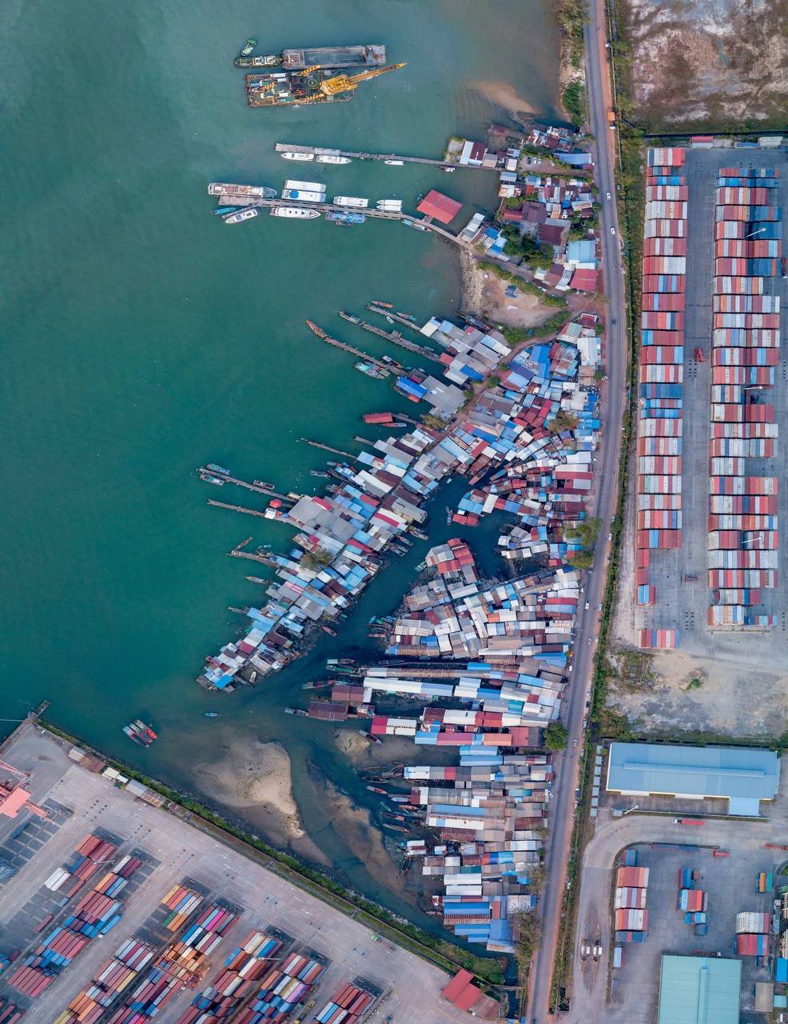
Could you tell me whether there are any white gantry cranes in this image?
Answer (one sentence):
No, the picture doesn't show any white gantry crane.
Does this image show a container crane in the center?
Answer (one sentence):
No, looking in the center, there is no container crane.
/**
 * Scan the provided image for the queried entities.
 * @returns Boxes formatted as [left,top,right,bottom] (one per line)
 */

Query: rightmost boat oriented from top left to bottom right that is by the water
[466,316,490,332]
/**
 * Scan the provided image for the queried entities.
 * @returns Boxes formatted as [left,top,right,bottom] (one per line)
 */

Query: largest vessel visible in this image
[246,61,408,106]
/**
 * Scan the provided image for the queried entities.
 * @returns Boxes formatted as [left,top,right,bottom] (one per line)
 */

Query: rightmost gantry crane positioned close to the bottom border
[154,941,206,987]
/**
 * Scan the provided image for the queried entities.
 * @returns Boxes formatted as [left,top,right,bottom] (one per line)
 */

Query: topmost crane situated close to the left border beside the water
[0,739,54,825]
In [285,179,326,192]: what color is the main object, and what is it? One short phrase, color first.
white boat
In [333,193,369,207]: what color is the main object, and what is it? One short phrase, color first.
white boat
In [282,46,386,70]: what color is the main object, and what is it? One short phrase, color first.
gray ship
